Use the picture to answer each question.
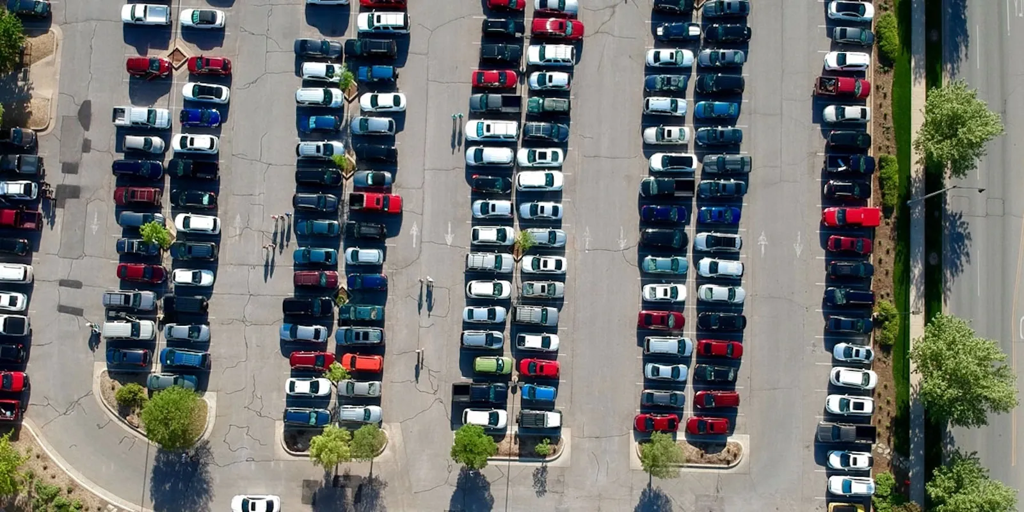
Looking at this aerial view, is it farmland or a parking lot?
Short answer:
parking lot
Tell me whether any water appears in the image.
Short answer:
No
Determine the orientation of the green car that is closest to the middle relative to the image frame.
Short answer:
from side to side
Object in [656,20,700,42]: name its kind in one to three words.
car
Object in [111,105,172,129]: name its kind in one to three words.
truck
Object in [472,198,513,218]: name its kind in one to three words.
car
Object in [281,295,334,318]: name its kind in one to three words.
truck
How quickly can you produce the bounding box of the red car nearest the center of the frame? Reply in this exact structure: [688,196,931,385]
[520,358,560,378]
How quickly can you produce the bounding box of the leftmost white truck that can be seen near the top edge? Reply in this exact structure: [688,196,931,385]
[122,1,173,26]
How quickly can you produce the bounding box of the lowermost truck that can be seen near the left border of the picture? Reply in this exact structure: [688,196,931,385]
[0,400,23,421]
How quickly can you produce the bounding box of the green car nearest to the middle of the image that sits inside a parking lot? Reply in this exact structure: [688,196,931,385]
[474,356,513,376]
